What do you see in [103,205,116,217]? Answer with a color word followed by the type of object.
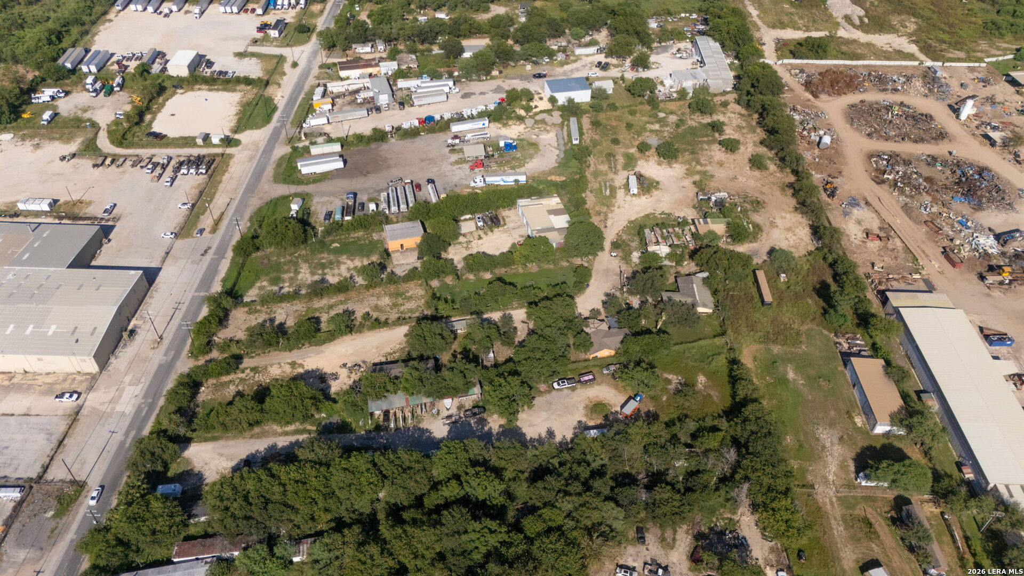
gray vehicle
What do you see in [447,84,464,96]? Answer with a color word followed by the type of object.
white vehicle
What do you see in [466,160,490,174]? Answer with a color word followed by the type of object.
red vehicle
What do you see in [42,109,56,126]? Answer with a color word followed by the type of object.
white vehicle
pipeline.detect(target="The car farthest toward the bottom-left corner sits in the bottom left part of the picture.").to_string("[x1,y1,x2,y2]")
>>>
[88,486,106,509]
